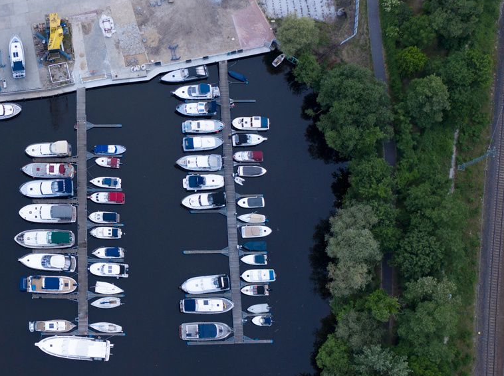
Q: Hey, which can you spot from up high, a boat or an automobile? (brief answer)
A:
boat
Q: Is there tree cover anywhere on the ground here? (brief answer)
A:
Yes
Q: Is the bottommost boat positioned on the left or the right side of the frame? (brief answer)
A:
left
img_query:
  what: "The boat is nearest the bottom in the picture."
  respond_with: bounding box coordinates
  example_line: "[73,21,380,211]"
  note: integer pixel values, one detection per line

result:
[34,333,112,361]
